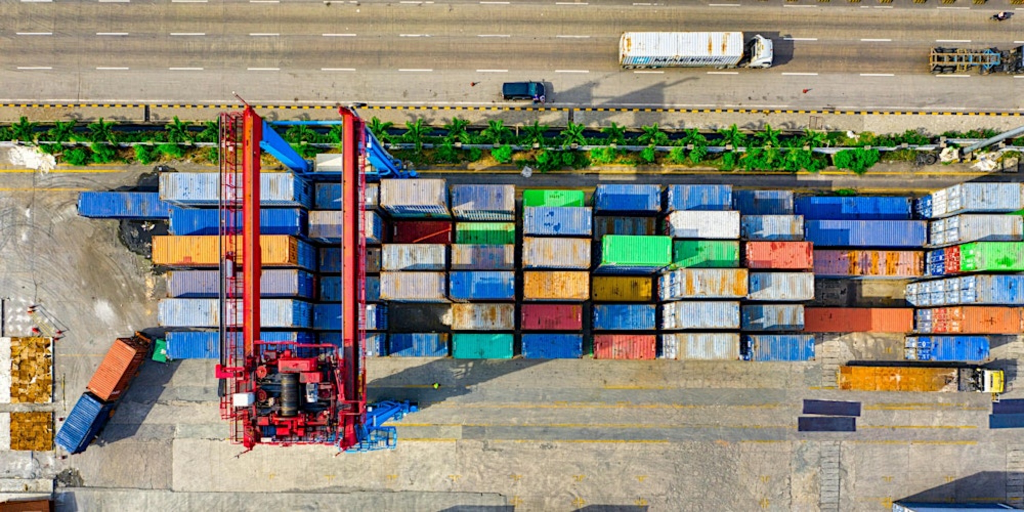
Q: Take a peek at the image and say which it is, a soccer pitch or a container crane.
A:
container crane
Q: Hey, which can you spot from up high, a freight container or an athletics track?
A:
freight container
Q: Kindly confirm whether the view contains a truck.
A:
Yes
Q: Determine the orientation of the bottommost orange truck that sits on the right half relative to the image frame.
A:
from left to right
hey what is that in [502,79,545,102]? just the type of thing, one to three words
car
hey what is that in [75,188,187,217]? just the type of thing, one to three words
shipping container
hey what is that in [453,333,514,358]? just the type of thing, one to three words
shipping container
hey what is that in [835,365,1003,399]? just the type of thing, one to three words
truck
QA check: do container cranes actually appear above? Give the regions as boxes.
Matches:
[216,91,424,460]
